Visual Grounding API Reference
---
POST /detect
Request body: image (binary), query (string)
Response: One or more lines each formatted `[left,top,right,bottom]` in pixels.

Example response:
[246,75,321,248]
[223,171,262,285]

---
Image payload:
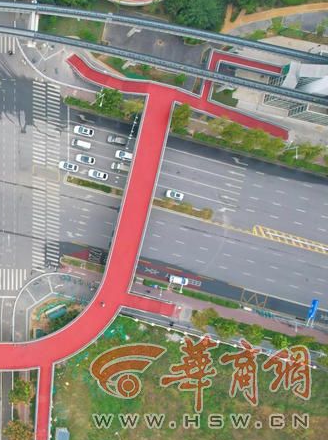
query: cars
[164,189,185,200]
[73,125,94,137]
[107,134,128,145]
[72,138,93,149]
[111,160,129,172]
[59,161,80,173]
[167,275,189,286]
[116,149,132,161]
[75,154,96,165]
[87,169,109,181]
